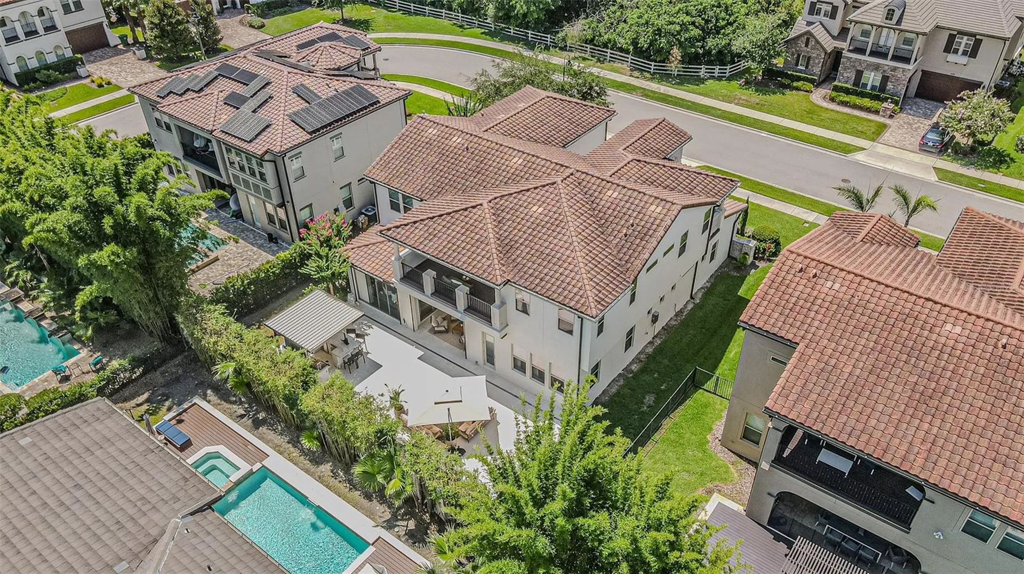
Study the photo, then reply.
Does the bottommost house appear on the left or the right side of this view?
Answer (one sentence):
The bottommost house is on the left side of the image.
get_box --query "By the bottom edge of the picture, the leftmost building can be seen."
[0,399,293,574]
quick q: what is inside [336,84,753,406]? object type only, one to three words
house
